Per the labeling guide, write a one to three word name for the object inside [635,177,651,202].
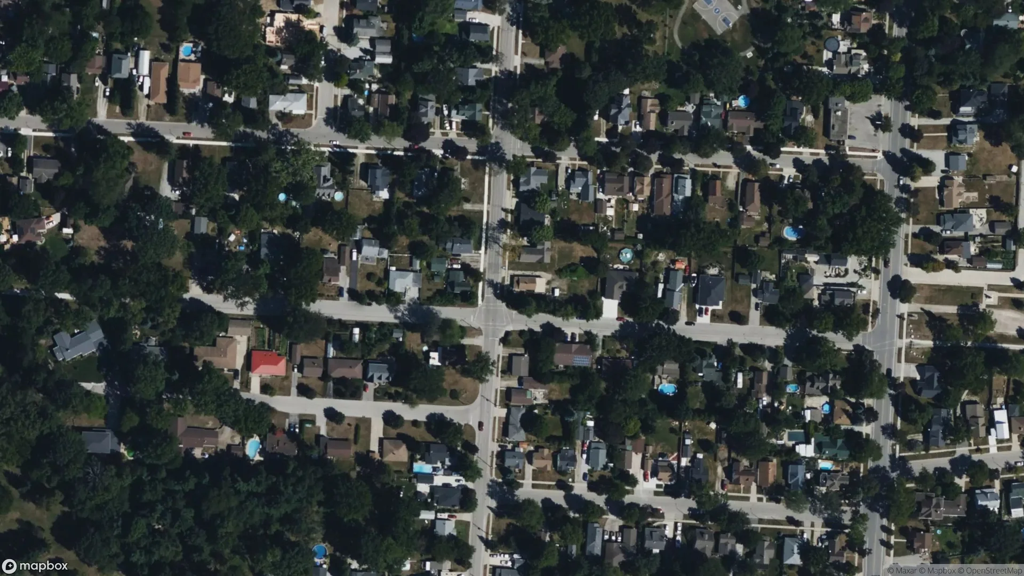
house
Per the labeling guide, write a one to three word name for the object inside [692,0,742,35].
basketball court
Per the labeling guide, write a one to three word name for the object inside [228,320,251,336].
building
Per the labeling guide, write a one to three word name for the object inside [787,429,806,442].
swimming pool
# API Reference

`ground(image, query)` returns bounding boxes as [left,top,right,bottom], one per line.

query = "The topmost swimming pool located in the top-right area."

[824,36,840,52]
